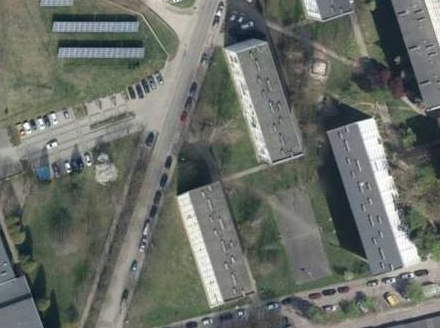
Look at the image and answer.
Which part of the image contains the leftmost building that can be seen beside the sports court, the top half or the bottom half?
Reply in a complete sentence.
The leftmost building that can be seen beside the sports court sits in the bottom half of the picture.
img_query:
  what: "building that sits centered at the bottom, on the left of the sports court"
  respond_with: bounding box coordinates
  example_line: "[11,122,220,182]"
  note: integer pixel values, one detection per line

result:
[178,182,255,302]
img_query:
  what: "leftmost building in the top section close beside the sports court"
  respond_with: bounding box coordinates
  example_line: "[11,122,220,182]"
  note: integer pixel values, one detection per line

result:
[224,42,303,163]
